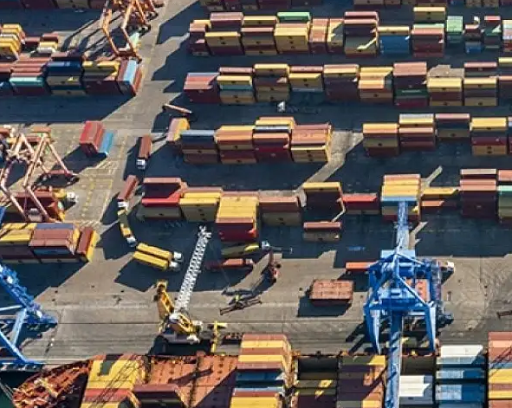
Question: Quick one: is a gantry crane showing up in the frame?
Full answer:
Yes, the photo shows a gantry crane.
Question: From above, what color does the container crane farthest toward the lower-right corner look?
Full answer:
The container crane farthest toward the lower-right corner is blue.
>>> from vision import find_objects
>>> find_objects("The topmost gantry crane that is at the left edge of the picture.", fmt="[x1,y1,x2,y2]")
[6,130,73,221]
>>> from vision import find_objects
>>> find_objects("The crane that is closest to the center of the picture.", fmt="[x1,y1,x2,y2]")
[152,225,222,358]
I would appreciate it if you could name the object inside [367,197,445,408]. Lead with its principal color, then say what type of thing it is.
blue container crane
